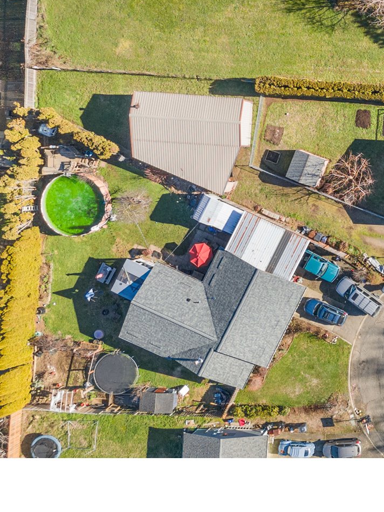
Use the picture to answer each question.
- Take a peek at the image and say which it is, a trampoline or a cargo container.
trampoline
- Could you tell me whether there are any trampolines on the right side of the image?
No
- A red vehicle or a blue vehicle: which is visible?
blue vehicle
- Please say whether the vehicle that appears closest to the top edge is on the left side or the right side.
right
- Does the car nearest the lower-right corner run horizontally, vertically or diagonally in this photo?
horizontally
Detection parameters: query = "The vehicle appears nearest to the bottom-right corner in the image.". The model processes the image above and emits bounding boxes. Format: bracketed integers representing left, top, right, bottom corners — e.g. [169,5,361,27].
[319,437,365,460]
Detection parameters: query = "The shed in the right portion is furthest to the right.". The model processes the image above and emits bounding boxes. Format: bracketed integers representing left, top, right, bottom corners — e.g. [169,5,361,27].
[285,149,331,187]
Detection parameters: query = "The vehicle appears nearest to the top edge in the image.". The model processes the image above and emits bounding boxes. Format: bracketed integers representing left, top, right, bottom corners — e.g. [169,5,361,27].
[298,248,343,284]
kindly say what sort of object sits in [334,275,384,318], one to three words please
car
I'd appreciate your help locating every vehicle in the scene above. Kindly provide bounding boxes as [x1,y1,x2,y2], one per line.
[334,275,384,318]
[303,297,350,325]
[298,248,343,284]
[277,437,317,460]
[319,437,365,460]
